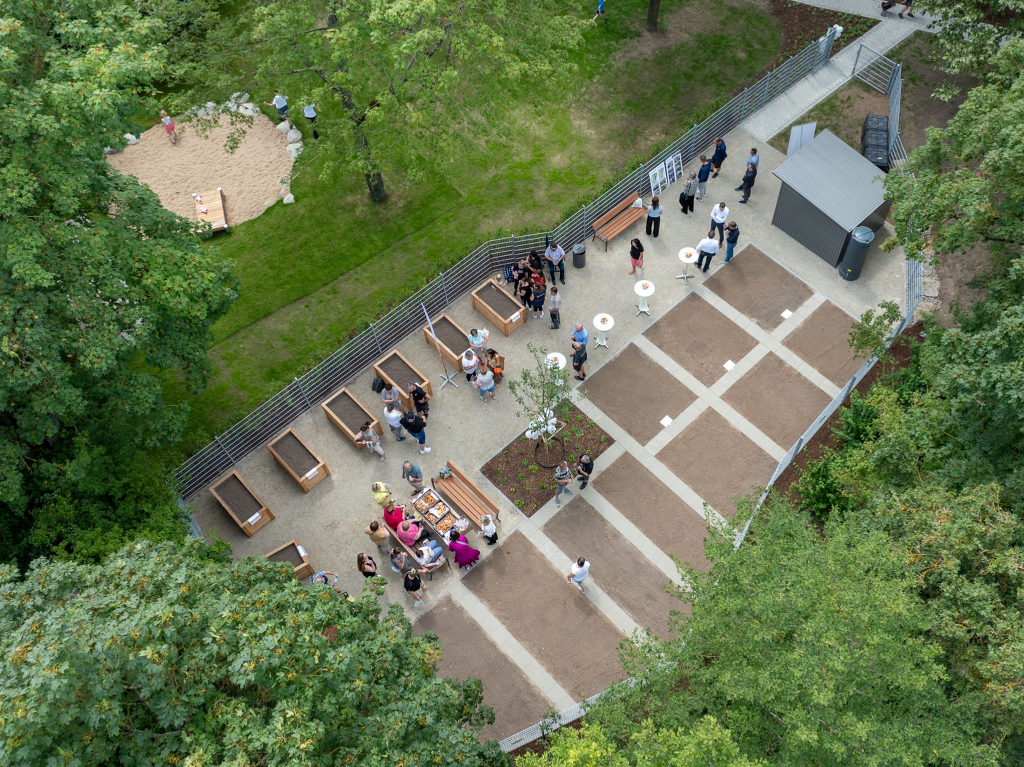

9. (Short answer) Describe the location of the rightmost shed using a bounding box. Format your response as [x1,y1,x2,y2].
[771,134,902,268]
